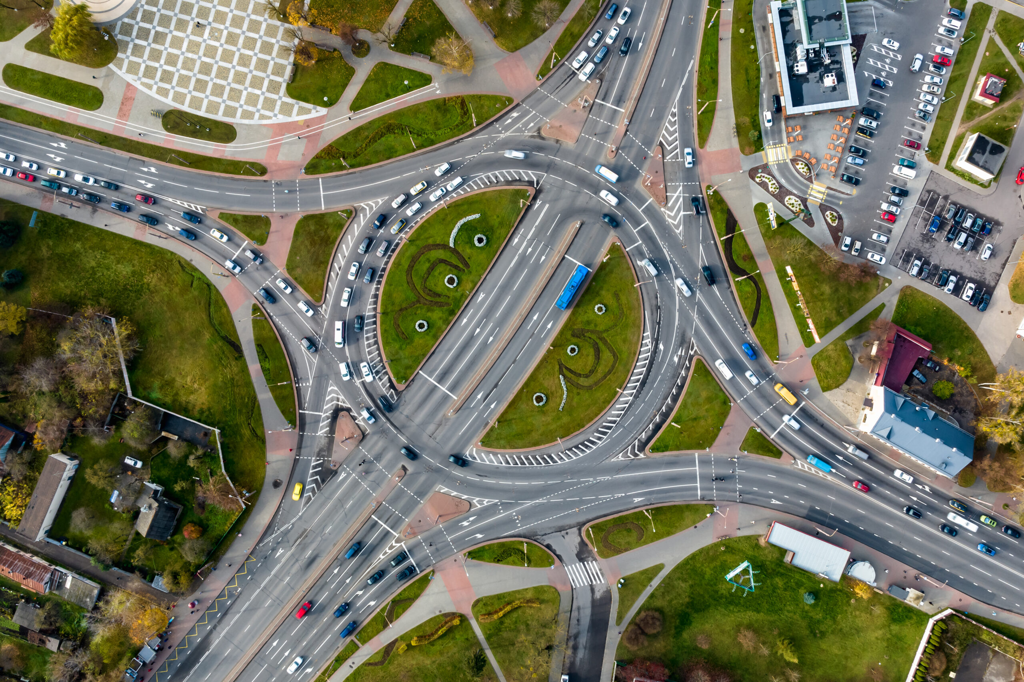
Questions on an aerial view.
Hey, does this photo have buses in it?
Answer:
Yes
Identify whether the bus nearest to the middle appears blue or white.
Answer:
blue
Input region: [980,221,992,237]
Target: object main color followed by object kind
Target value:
blue vehicle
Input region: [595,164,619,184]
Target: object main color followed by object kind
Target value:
white vehicle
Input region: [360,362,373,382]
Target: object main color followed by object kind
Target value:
white vehicle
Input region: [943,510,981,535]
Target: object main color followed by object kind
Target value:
white bus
